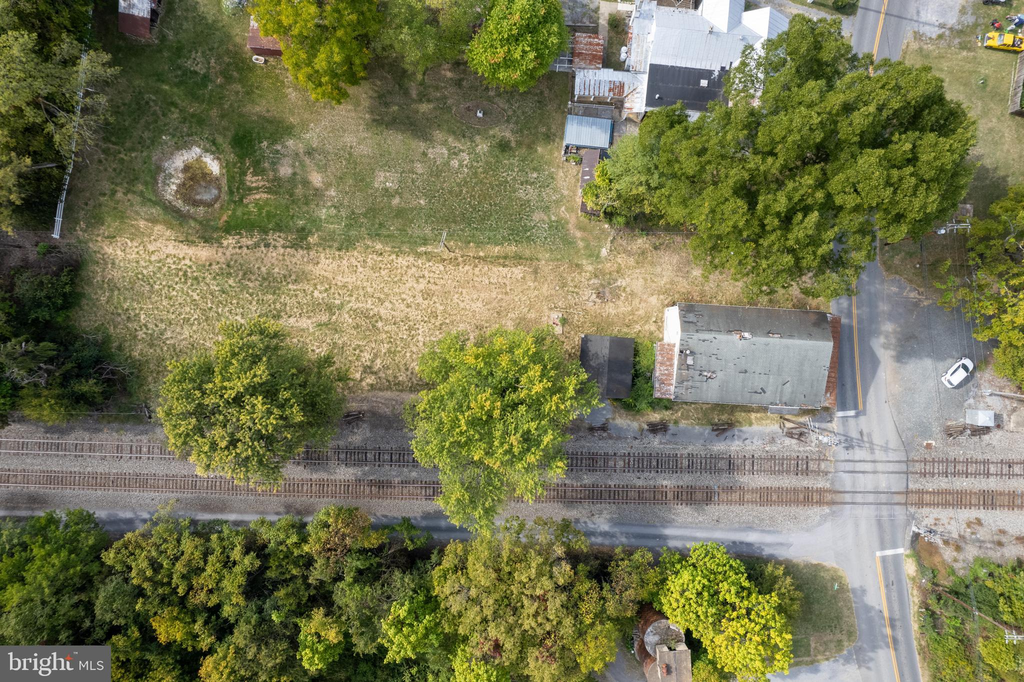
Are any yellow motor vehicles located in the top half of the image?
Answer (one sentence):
Yes, I can see a yellow motor vehicle in the top half of the image.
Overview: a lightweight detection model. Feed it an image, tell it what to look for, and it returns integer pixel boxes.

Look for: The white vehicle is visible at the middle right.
[940,358,972,390]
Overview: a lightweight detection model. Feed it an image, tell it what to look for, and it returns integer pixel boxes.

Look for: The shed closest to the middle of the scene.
[580,334,634,398]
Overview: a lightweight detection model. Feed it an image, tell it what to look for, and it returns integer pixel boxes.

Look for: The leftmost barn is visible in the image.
[118,0,159,44]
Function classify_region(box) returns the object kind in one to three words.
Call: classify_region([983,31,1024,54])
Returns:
truck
